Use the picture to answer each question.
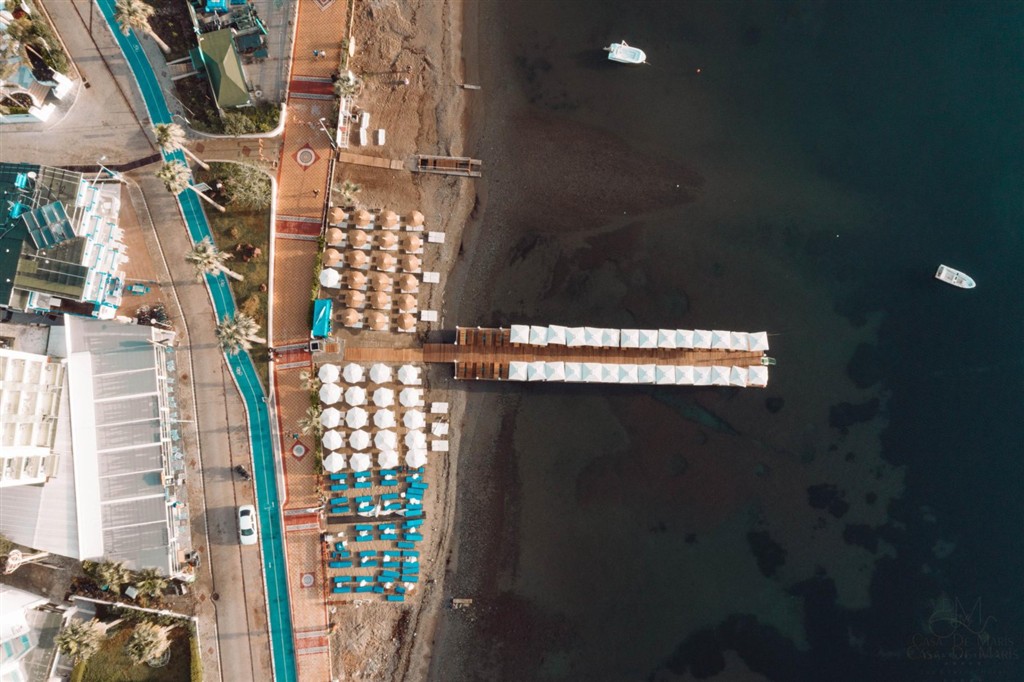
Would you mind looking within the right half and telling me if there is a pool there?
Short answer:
No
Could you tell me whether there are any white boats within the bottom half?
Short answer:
No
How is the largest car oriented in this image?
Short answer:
from top to bottom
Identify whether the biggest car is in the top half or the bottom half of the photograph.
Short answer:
bottom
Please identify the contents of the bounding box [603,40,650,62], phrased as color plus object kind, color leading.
white boat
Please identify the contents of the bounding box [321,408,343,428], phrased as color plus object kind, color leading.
white umbrella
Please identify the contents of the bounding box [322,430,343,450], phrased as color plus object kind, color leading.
white umbrella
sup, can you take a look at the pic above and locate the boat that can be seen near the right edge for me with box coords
[934,264,977,286]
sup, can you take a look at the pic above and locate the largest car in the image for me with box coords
[236,504,258,547]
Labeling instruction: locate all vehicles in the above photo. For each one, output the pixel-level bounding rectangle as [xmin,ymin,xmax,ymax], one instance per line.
[236,504,258,547]
[183,548,196,568]
[191,552,203,571]
[232,463,251,482]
